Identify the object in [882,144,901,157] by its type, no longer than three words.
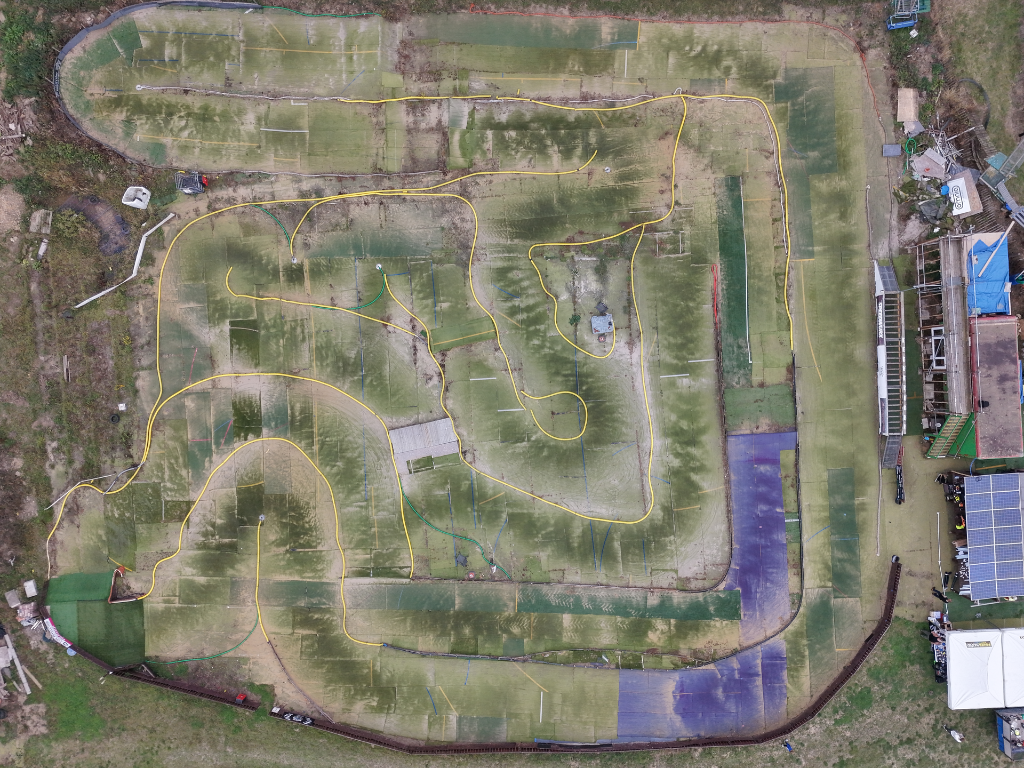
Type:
solar panel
